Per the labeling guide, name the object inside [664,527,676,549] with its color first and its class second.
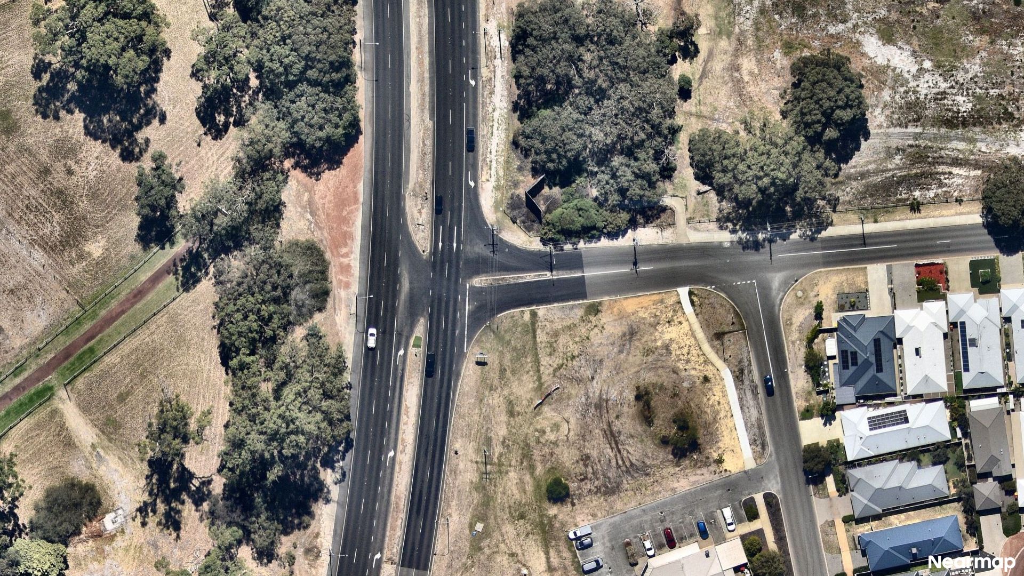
red vehicle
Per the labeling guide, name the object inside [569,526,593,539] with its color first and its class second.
white vehicle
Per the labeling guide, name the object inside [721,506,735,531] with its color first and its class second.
white vehicle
